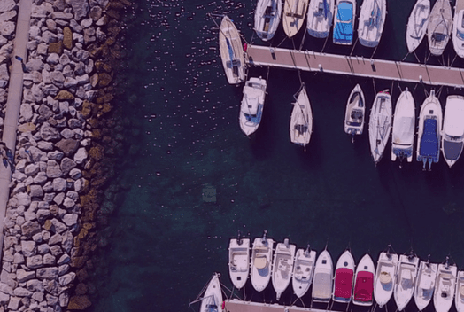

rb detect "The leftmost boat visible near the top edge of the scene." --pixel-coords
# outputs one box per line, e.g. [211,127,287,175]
[214,14,249,85]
